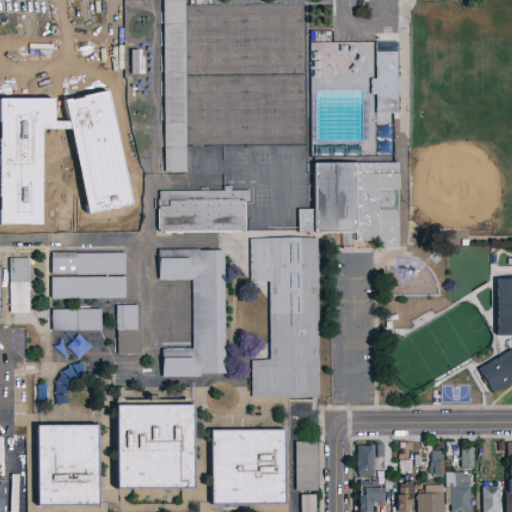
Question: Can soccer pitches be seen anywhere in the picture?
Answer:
Yes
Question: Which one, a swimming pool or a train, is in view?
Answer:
swimming pool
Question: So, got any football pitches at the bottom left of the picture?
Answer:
No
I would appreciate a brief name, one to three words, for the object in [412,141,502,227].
baseball field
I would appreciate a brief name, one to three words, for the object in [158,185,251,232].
building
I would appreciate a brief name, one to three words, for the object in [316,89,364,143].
swimming pool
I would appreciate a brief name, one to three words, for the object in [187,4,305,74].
sports court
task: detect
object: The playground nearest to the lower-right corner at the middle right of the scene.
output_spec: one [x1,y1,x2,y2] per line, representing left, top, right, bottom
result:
[391,254,441,297]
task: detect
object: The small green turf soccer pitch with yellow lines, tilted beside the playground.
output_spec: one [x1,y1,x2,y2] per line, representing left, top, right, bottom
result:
[392,302,494,390]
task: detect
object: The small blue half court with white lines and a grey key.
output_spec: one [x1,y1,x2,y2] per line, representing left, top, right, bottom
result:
[442,384,472,404]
